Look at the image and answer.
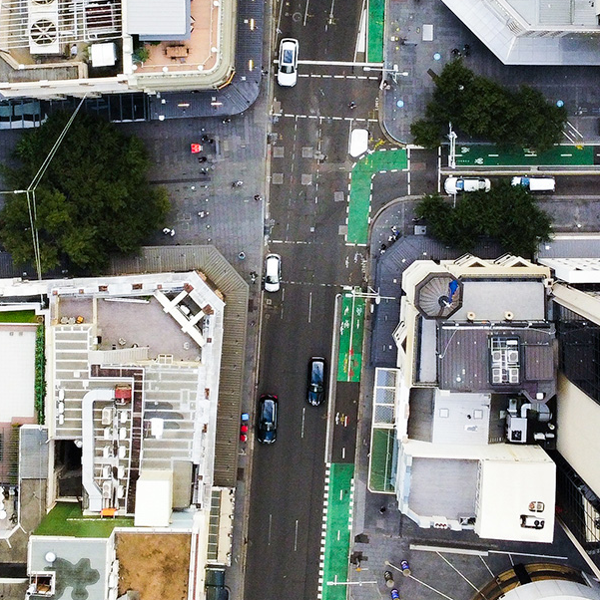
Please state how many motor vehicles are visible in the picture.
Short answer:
6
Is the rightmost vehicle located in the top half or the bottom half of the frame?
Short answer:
top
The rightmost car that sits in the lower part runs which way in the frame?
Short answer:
from top to bottom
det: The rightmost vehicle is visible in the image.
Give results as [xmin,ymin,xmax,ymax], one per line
[511,173,558,195]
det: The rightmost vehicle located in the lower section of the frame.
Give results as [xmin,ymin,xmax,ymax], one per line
[305,355,328,405]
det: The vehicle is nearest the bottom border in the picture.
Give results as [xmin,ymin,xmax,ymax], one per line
[257,393,279,443]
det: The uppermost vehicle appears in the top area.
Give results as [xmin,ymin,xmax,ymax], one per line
[277,38,299,87]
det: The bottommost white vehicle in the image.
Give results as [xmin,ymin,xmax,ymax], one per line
[262,253,283,293]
